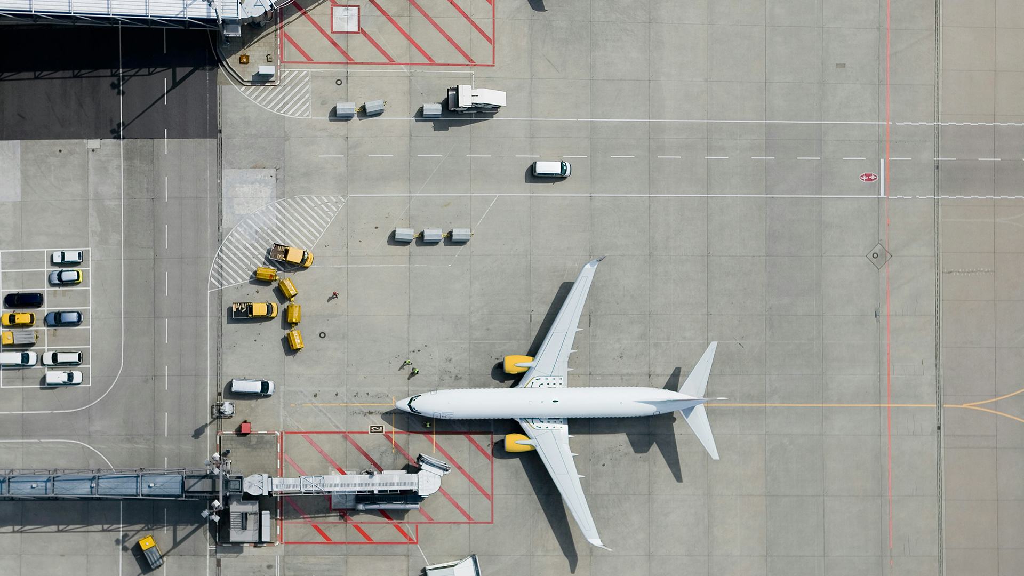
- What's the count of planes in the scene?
1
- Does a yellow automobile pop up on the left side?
Yes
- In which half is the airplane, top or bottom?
bottom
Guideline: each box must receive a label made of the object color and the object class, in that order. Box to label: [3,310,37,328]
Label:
yellow car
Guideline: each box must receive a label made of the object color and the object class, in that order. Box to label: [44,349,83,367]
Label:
white car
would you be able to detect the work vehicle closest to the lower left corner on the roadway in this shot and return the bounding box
[139,536,164,569]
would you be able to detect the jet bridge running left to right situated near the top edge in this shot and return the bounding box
[236,0,296,27]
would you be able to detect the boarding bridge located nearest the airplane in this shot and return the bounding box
[241,448,449,513]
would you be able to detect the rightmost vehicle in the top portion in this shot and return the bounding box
[533,160,572,179]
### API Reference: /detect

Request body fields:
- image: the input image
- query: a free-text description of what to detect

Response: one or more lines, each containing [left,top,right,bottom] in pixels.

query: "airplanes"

[396,254,726,548]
